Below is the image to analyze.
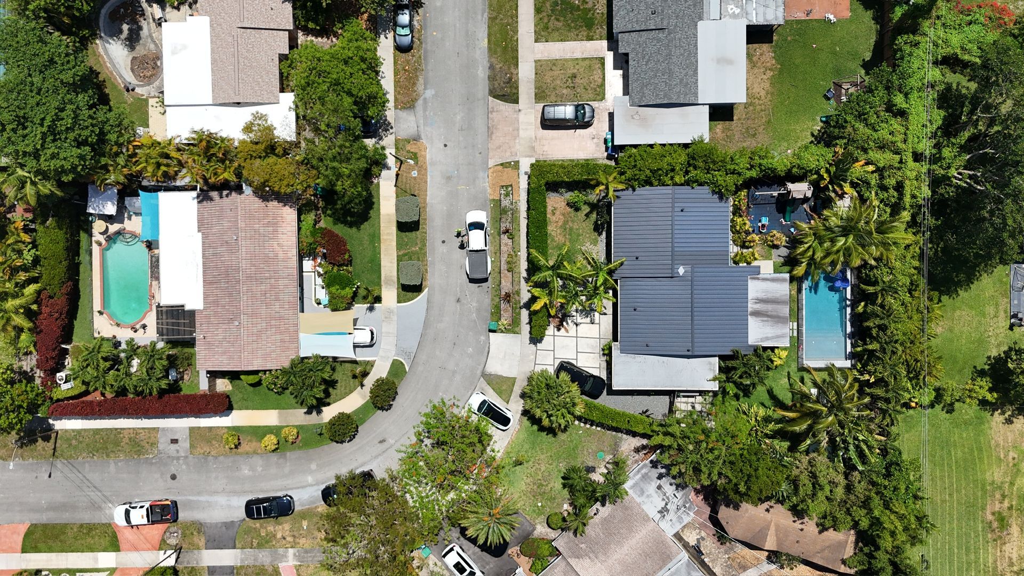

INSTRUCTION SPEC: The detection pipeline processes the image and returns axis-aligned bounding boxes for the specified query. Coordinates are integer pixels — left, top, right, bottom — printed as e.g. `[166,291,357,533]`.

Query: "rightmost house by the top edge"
[613,0,747,145]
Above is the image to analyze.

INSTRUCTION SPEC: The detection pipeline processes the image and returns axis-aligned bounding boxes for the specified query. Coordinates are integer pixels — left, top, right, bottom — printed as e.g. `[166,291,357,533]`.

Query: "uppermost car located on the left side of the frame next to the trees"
[391,0,416,54]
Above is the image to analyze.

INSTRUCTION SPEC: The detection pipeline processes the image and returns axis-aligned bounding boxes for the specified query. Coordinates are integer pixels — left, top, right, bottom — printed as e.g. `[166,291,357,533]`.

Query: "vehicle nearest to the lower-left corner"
[114,497,182,528]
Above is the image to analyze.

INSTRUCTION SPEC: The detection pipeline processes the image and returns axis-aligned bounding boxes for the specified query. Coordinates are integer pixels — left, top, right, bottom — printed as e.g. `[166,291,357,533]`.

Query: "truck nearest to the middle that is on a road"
[463,212,490,280]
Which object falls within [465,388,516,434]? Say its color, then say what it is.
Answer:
white car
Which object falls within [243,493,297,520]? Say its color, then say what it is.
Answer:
black car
